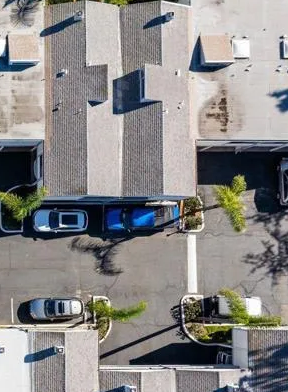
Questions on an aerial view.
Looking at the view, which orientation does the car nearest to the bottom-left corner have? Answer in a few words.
from side to side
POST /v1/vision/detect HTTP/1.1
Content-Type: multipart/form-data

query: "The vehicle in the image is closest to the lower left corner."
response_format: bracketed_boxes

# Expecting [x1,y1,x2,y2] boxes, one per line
[25,296,85,322]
